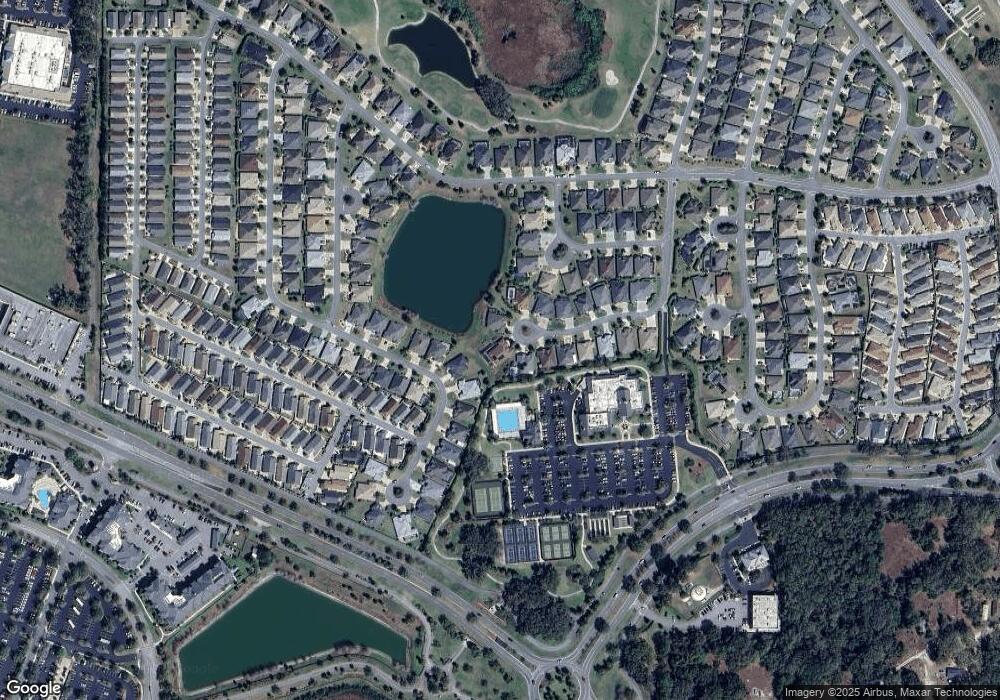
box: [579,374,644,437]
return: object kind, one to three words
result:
building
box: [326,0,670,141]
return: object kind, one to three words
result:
golf course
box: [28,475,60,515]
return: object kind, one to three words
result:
swimming pool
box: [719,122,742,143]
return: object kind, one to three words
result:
house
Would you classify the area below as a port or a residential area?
residential area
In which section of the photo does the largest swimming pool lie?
center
